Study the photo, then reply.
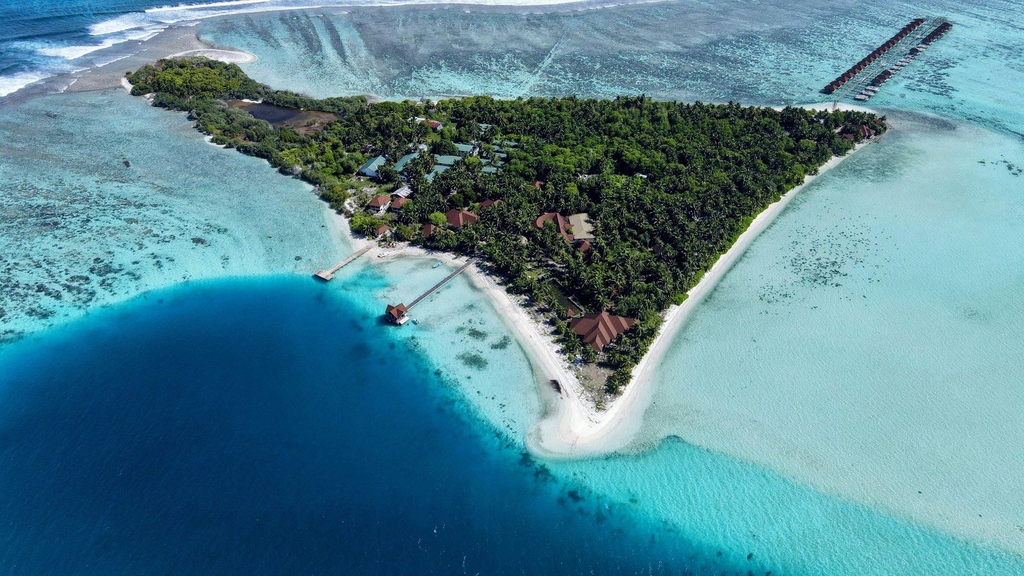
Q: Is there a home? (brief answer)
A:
Yes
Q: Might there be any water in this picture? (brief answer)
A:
Yes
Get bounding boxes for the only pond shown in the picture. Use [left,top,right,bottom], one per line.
[229,99,337,134]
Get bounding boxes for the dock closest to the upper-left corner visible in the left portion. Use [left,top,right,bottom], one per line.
[309,240,378,284]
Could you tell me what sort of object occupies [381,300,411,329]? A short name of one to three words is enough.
house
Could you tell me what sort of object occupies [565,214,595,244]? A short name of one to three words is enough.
building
